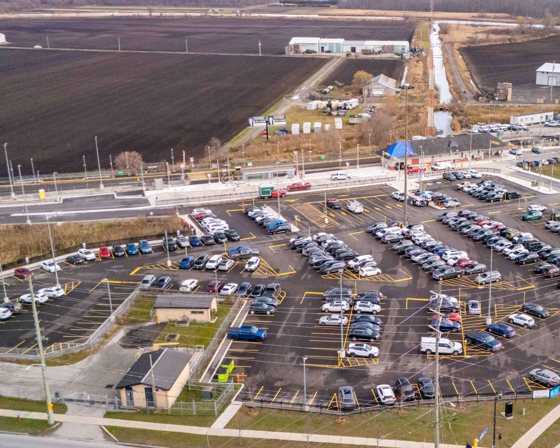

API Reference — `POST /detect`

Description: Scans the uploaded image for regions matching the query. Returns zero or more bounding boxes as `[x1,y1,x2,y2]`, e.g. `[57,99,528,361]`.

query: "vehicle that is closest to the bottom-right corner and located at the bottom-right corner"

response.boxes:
[528,371,560,388]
